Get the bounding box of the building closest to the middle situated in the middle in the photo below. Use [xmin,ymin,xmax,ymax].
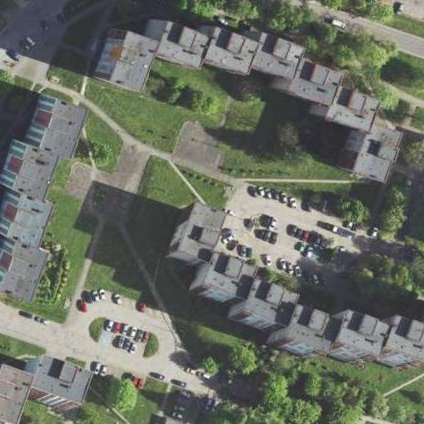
[167,202,226,268]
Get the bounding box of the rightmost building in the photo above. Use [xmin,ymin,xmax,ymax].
[372,314,424,367]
